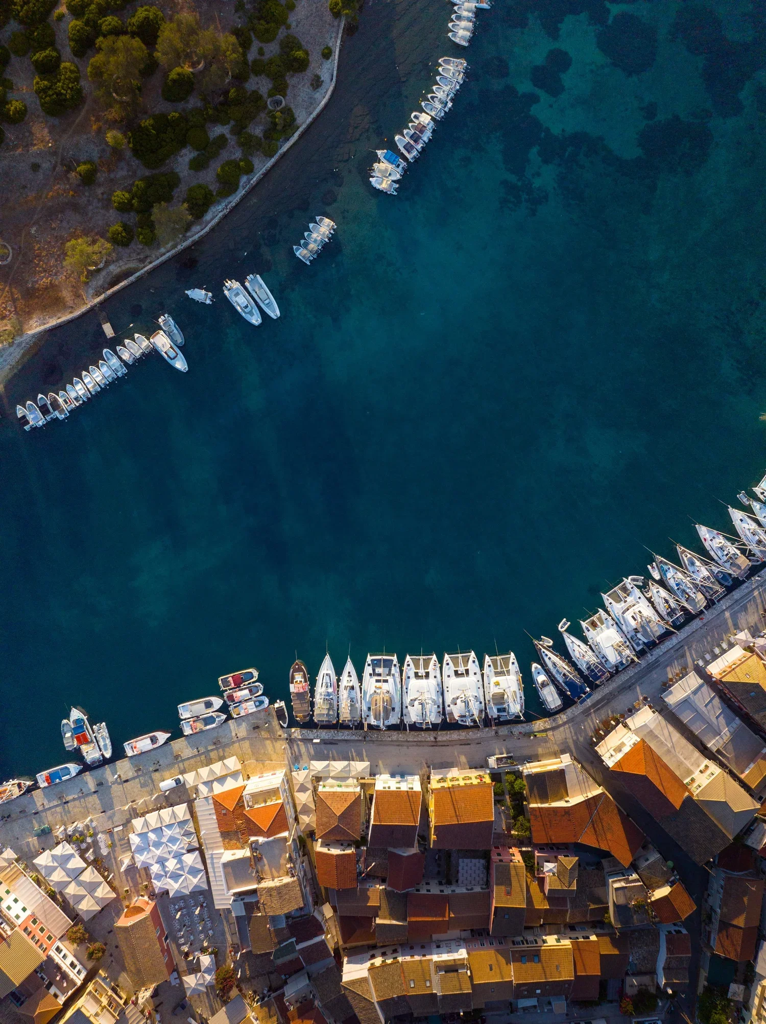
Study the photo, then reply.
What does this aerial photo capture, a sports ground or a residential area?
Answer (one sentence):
This looks like a residential area.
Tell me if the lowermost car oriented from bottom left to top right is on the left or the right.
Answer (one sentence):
The lowermost car oriented from bottom left to top right is on the left side of the image.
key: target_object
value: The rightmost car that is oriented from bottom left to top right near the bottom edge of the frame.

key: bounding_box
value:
[170,996,192,1021]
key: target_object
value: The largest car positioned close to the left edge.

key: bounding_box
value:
[30,825,50,838]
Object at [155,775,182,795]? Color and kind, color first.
white vehicle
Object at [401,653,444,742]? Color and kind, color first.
white boat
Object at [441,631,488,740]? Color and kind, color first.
white boat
